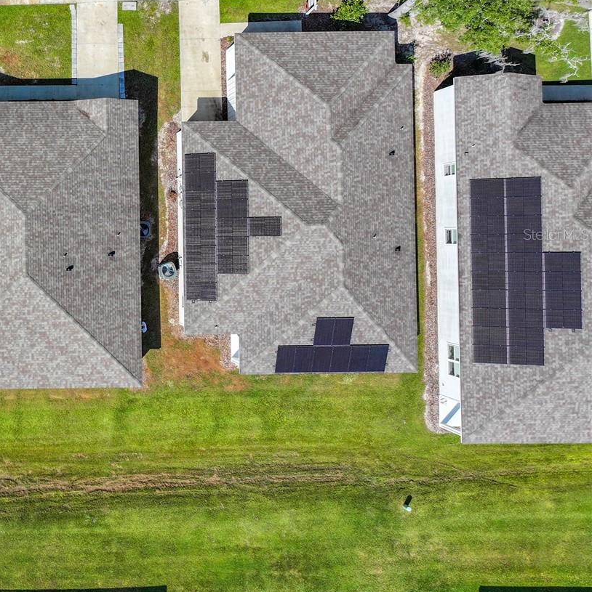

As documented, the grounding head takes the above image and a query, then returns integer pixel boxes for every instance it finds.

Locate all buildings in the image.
[0,98,143,389]
[178,30,418,376]
[437,75,592,447]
